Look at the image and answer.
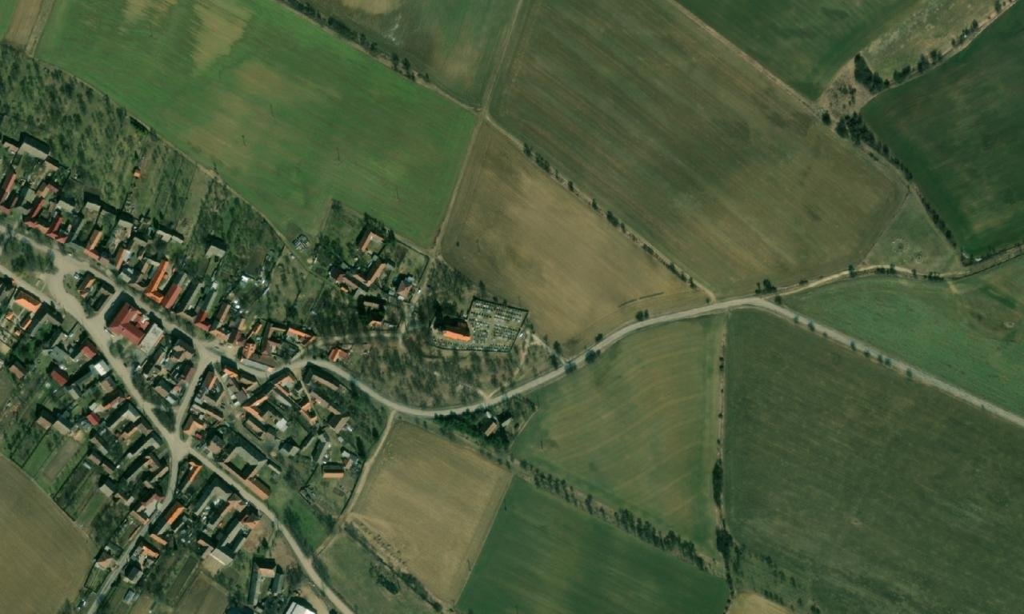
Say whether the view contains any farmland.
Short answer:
Yes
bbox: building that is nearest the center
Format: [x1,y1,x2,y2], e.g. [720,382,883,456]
[438,325,475,341]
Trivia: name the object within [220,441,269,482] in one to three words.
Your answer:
barn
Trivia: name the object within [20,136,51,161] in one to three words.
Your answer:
barn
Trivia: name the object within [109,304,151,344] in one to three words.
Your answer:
building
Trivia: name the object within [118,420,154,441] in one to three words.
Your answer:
house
